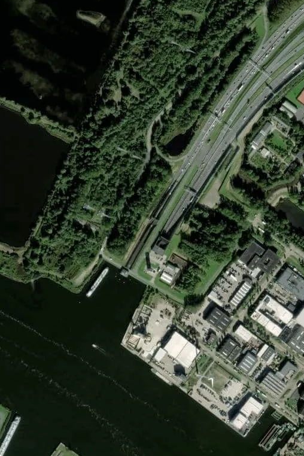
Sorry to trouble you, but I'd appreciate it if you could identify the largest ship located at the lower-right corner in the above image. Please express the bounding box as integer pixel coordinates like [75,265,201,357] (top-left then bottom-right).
[265,426,288,450]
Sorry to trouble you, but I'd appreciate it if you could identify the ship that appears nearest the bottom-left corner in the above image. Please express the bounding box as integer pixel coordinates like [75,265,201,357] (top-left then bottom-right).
[0,415,21,456]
